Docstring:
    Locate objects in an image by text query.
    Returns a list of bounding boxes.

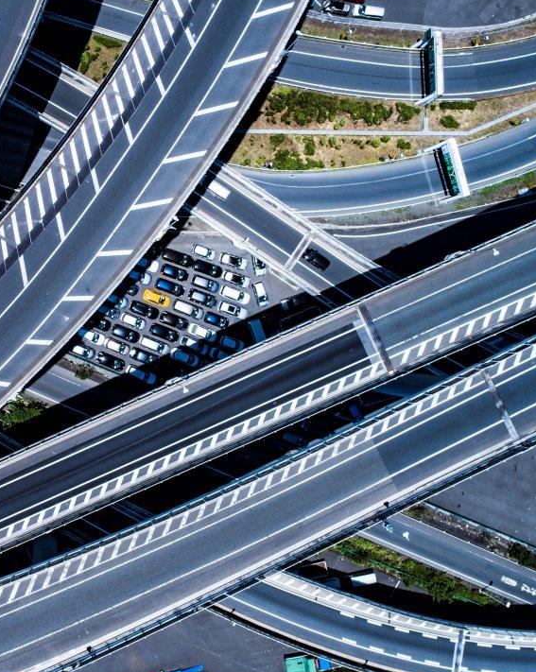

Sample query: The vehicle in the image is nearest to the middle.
[247,319,267,347]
